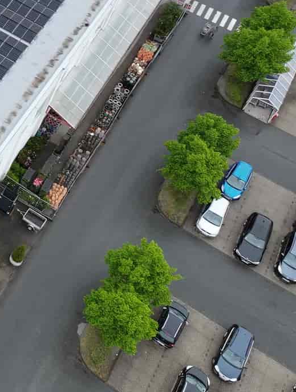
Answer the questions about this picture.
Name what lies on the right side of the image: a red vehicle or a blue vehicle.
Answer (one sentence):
What appears on the right side of the image is a blue vehicle.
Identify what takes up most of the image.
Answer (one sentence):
The scene is dominated by paved ground.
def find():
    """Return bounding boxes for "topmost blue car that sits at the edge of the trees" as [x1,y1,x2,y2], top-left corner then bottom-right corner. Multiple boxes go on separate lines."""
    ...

[220,160,256,203]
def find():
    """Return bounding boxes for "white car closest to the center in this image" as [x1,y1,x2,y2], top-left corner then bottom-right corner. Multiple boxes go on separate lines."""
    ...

[194,193,233,241]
